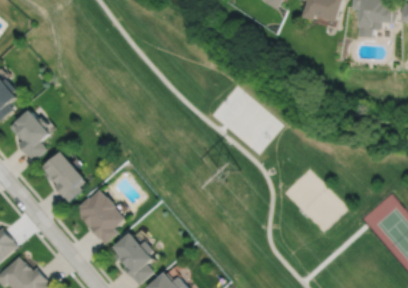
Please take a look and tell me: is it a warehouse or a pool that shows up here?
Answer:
pool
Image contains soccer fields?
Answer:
No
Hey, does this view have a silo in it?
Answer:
No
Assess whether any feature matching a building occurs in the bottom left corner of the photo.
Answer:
Yes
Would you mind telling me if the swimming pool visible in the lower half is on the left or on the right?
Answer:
left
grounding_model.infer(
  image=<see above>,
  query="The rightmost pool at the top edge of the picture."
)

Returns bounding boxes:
[350,8,401,65]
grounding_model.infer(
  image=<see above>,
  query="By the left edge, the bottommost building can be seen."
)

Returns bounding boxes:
[0,258,49,288]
